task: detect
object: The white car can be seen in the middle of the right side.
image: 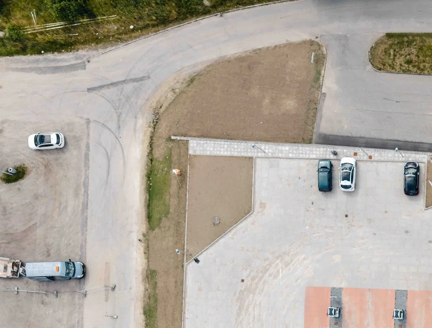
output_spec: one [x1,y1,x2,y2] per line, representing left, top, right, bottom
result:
[337,156,356,192]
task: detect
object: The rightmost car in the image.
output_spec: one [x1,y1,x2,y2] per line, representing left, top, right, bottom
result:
[402,161,421,196]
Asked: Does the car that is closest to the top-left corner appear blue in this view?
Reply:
No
